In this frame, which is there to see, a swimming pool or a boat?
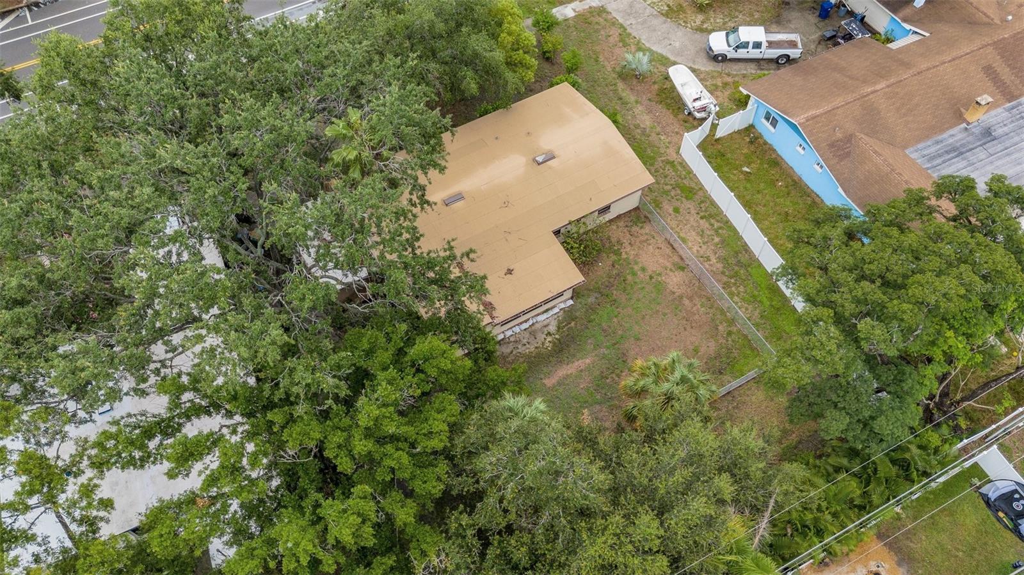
boat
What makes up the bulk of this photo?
trees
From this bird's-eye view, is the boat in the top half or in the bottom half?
top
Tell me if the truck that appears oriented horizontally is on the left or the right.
right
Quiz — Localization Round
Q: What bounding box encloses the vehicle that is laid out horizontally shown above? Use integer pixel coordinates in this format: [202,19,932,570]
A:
[703,24,802,64]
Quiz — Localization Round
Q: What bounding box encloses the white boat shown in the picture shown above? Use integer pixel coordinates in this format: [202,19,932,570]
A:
[670,59,725,122]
